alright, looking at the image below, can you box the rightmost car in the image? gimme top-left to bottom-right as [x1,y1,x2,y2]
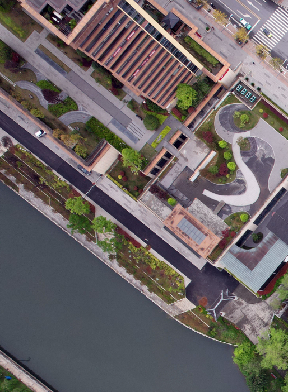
[260,25,274,39]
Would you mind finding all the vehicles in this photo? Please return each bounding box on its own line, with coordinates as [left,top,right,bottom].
[238,16,252,29]
[260,25,274,39]
[32,127,46,138]
[76,161,90,173]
